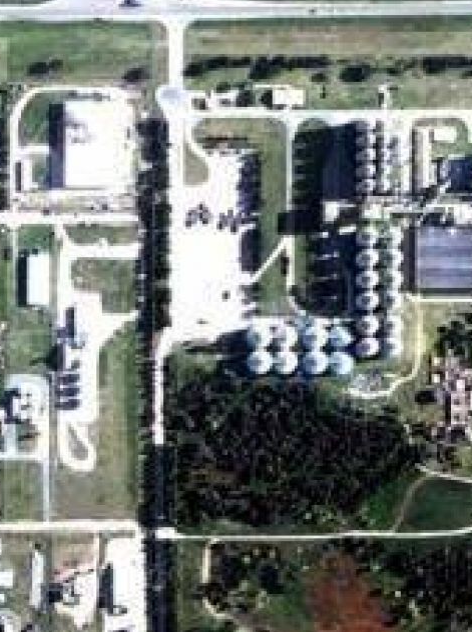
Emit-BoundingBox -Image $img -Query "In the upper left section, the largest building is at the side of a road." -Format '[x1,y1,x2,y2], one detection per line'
[64,101,136,188]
